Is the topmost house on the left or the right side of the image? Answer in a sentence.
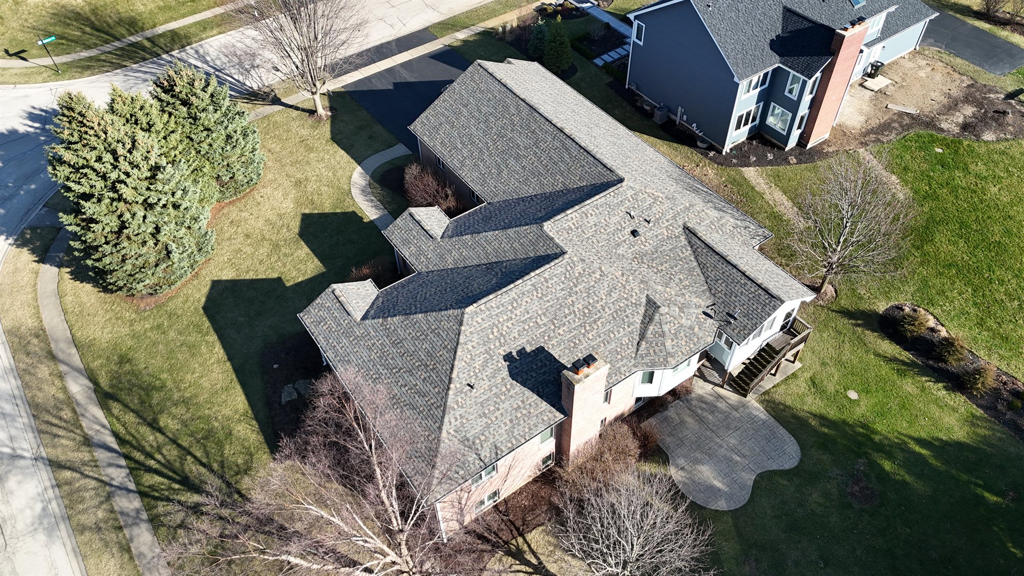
The topmost house sits on the right side.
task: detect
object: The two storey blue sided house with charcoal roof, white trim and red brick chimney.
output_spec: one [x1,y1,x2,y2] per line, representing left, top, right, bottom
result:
[624,0,941,156]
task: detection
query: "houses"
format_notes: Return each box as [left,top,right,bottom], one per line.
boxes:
[624,0,941,156]
[297,58,817,541]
